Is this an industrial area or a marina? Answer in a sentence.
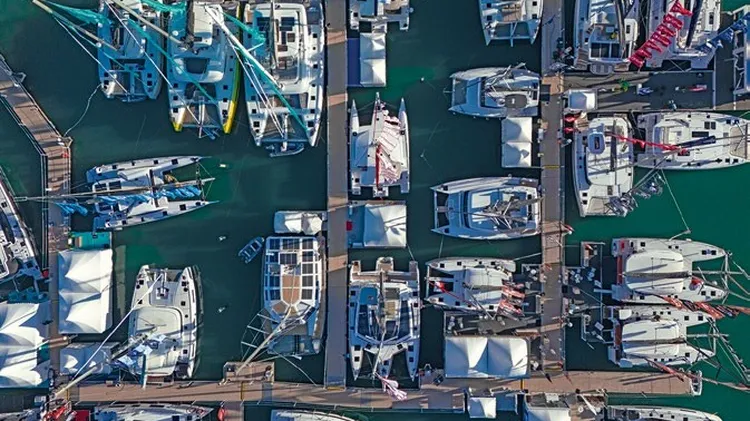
This image shows a marina.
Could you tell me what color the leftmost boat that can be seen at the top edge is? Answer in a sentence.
From above, the leftmost boat that can be seen at the top edge appears blue.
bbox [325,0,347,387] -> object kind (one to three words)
pier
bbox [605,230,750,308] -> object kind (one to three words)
boat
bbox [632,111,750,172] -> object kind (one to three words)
boat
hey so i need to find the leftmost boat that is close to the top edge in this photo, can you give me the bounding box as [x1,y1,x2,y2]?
[21,0,168,102]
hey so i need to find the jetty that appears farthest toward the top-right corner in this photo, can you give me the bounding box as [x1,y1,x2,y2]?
[562,40,736,113]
